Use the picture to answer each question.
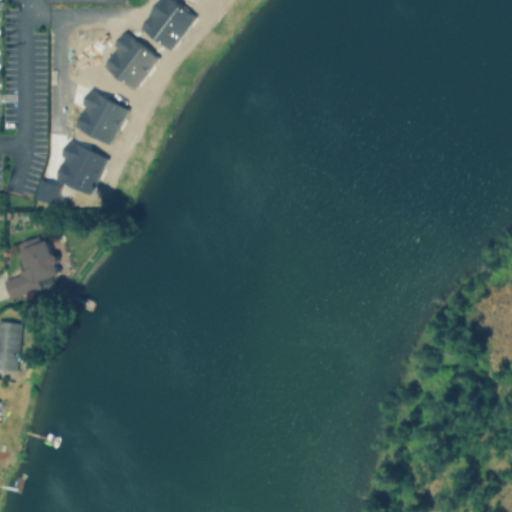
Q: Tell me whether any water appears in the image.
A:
Yes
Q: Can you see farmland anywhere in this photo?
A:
No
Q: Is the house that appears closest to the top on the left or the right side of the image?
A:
left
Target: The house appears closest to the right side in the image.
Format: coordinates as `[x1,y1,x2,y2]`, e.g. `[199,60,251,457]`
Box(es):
[140,0,193,50]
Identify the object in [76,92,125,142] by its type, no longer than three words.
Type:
house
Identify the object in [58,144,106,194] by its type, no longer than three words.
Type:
house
